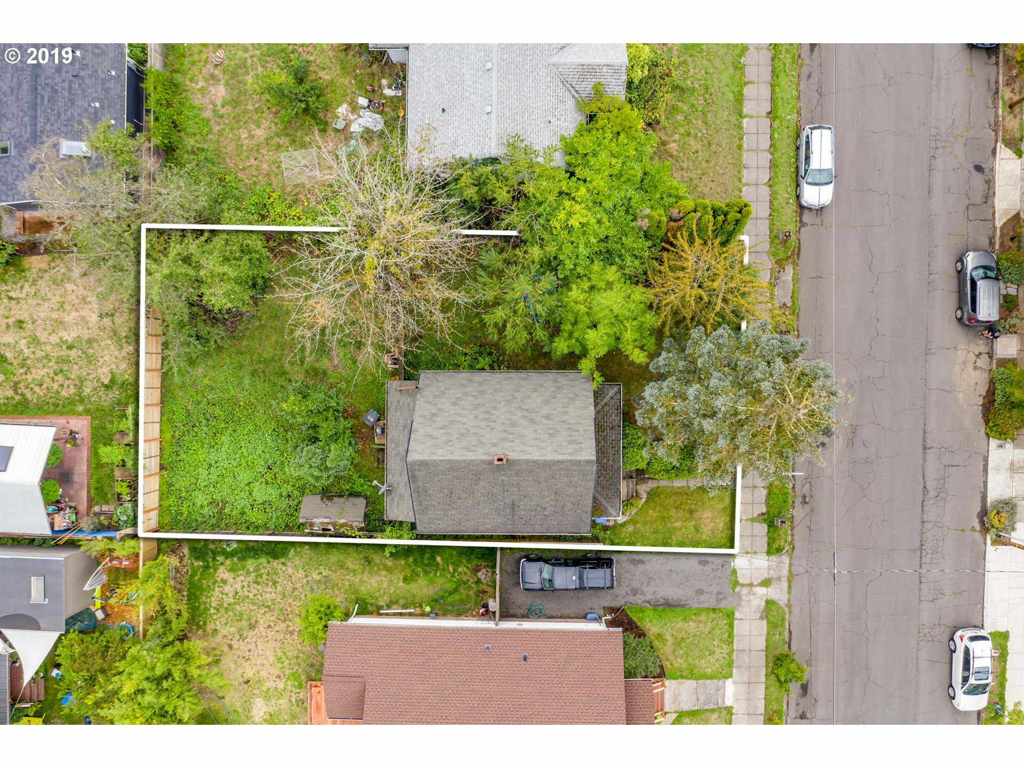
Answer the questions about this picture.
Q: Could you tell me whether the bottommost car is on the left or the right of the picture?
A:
right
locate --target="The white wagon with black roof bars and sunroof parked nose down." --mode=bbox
[946,628,996,712]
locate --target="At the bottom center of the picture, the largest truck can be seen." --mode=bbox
[519,553,614,595]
